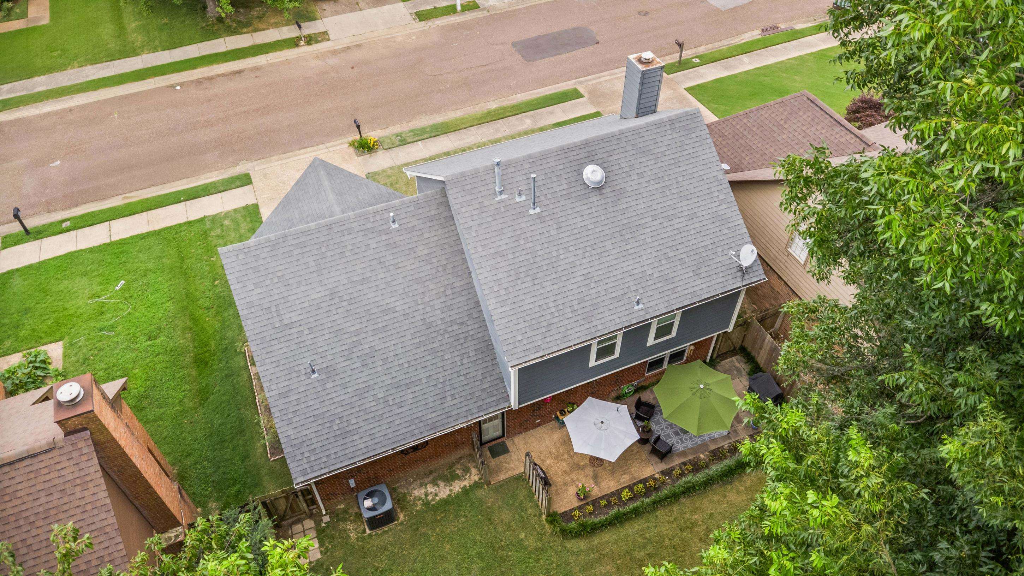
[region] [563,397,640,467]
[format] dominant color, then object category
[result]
white umbrella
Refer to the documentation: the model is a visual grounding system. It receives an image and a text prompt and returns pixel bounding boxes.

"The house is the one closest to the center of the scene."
[219,50,766,511]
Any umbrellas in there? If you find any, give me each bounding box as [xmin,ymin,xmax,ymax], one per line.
[652,362,744,441]
[563,397,640,467]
